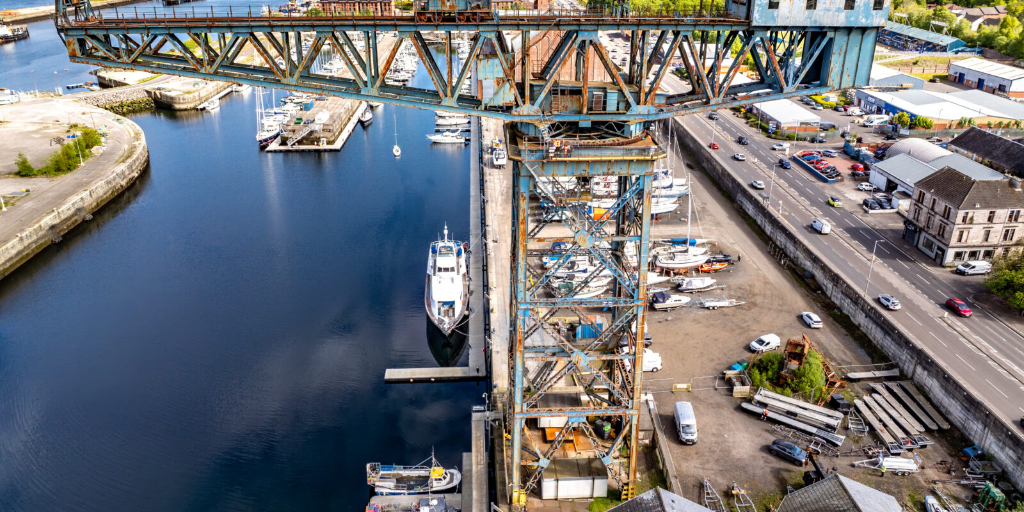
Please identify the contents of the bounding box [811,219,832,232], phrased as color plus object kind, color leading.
white vehicle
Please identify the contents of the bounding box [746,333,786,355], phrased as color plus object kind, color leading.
white vehicle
